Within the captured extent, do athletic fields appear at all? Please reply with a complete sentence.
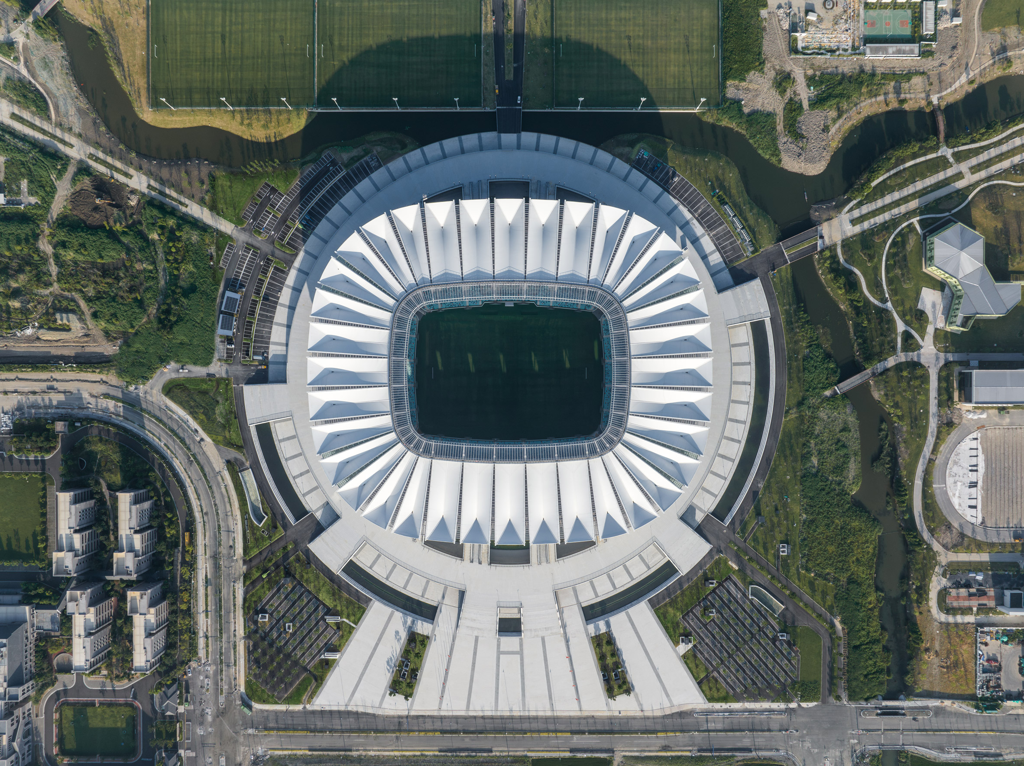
Yes, the image includes an athletic field.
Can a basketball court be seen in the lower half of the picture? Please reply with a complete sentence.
No, there's no basketball court to be seen in the lower half of the picture.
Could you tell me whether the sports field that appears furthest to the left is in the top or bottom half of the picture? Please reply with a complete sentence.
The sports field that appears furthest to the left sits in the top half of the picture.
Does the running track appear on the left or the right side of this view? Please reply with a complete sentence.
You can find the running track on the right side of the picture.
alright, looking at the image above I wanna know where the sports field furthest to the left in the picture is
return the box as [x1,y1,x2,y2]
[150,0,314,108]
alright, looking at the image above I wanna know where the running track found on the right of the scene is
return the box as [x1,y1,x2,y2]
[934,414,1024,544]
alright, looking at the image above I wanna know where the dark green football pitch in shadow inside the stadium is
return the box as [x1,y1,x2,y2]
[415,303,604,440]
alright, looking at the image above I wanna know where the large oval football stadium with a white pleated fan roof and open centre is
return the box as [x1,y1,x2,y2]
[304,195,715,548]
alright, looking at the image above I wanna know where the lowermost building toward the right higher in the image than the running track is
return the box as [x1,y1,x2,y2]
[955,370,1024,405]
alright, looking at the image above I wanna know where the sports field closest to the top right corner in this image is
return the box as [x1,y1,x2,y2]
[554,0,721,108]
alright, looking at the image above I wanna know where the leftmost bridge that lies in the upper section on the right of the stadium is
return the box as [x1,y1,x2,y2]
[781,225,819,263]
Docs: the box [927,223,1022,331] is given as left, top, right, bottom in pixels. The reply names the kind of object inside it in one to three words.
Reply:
building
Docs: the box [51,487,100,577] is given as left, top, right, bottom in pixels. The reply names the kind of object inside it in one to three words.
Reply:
building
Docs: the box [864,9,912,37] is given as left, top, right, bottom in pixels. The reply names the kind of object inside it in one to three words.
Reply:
basketball court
